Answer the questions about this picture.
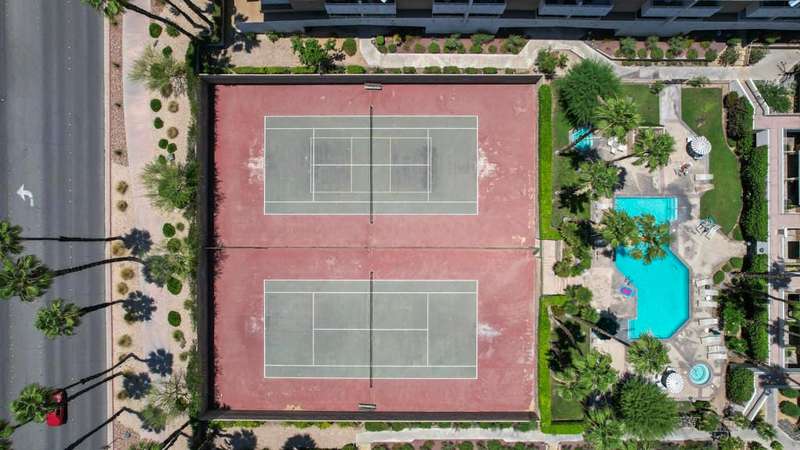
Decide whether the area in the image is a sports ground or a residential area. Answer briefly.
sports ground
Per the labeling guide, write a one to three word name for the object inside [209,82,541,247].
tennis court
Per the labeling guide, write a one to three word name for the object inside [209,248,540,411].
tennis court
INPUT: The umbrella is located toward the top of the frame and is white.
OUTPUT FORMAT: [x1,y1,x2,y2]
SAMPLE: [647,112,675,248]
[687,135,710,158]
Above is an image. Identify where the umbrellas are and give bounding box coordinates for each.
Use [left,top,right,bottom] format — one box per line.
[687,135,710,158]
[662,370,683,391]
